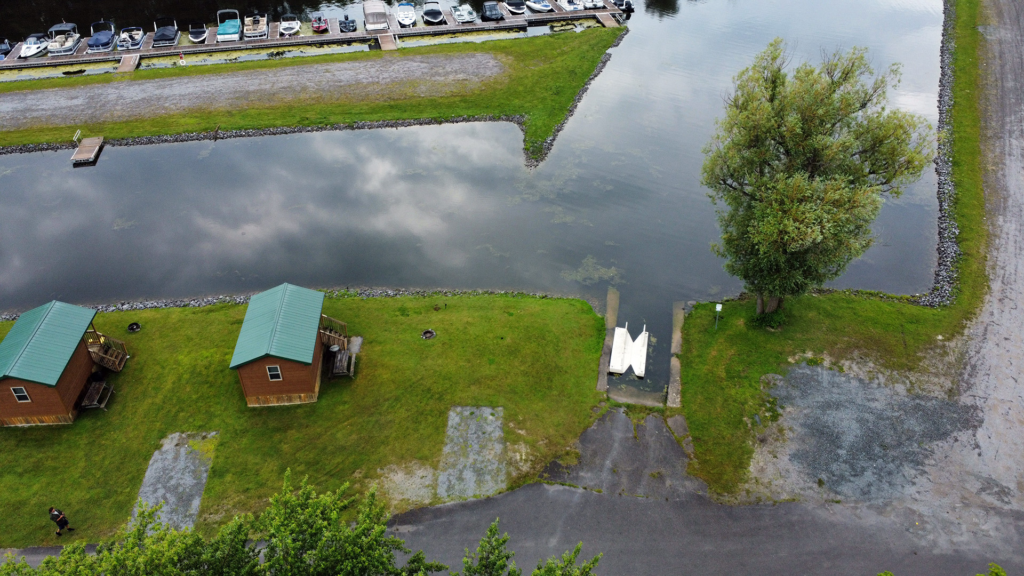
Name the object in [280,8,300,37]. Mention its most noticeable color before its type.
white boat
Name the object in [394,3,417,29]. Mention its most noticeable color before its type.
white boat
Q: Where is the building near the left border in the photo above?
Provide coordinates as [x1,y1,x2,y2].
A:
[0,300,131,429]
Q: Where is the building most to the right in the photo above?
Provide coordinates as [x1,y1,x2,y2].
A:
[230,282,351,407]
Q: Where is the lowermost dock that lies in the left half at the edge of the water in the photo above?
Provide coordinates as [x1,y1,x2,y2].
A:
[71,128,102,164]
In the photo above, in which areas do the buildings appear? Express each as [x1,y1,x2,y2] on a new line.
[230,282,351,407]
[0,300,131,429]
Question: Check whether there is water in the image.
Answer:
Yes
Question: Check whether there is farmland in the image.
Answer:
No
